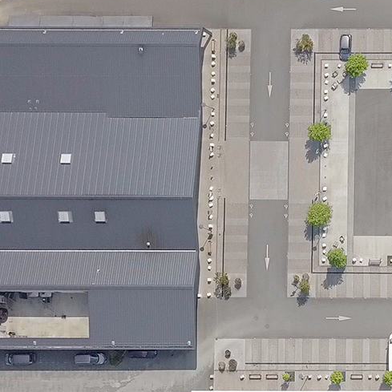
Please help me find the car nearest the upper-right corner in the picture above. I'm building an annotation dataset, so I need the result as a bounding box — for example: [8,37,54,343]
[339,35,352,60]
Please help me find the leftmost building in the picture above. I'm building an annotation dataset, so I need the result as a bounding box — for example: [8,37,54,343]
[0,27,205,351]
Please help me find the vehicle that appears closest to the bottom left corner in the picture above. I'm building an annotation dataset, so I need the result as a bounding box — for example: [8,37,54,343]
[6,352,37,367]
